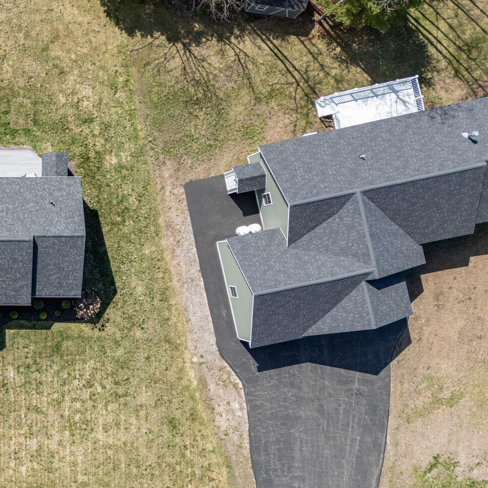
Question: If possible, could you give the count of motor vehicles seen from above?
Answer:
0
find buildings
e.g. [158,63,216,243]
[243,0,312,18]
[217,98,488,349]
[0,153,86,306]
